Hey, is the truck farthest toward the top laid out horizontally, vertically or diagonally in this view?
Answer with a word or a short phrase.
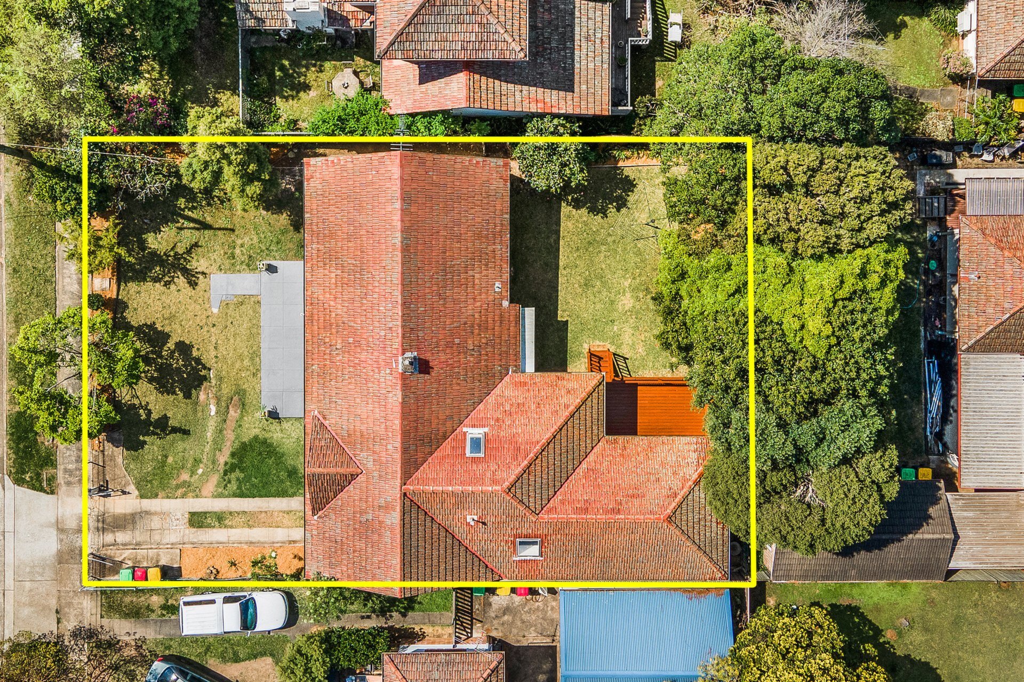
horizontally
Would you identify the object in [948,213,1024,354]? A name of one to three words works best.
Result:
house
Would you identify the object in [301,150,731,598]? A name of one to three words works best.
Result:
house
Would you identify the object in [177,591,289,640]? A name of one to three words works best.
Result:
truck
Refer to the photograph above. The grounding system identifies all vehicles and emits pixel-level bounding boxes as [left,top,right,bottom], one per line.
[140,655,227,682]
[177,591,289,640]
